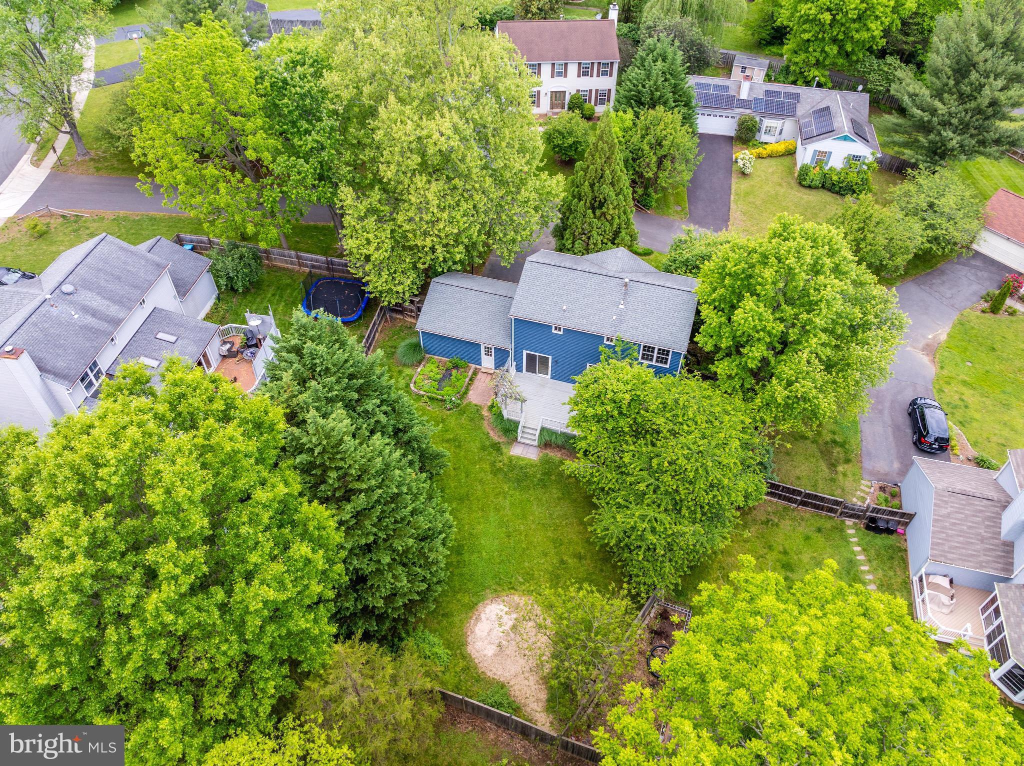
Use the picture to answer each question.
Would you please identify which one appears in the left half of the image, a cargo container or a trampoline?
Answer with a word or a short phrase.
trampoline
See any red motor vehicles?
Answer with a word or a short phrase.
No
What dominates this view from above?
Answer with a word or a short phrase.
trees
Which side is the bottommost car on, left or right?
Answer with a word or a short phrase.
right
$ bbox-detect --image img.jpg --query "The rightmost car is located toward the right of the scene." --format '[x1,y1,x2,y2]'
[908,398,955,457]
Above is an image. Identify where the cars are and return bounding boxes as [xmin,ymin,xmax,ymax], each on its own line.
[908,398,955,457]
[0,261,41,278]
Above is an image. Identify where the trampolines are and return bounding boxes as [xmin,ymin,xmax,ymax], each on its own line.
[298,265,372,329]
